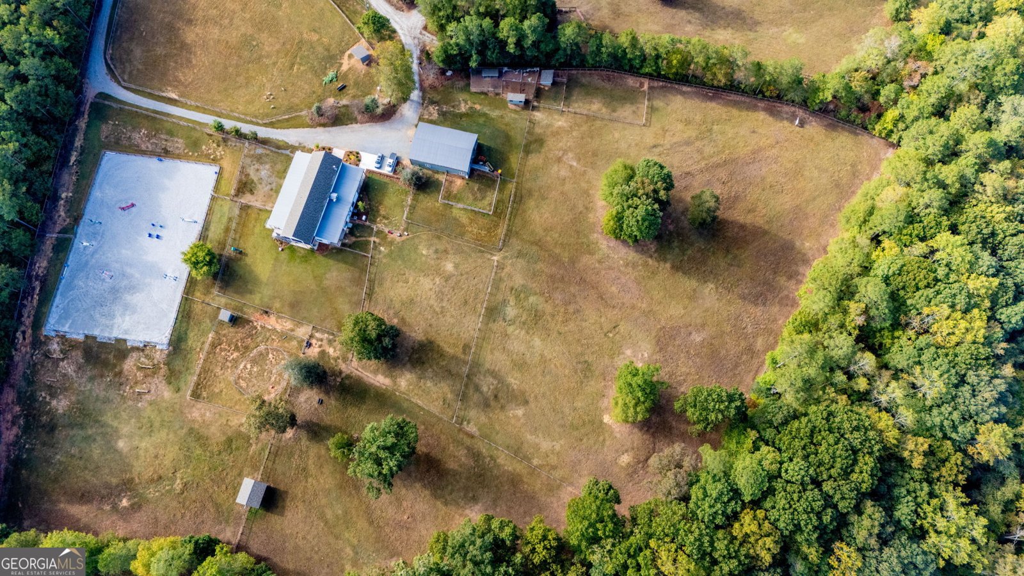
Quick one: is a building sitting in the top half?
Yes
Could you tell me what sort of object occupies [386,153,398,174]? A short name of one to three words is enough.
vehicle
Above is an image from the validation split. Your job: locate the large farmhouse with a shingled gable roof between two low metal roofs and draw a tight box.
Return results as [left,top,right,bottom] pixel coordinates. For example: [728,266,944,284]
[266,150,367,249]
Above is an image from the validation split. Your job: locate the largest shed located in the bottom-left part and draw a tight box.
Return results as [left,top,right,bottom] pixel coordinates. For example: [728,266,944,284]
[236,477,269,508]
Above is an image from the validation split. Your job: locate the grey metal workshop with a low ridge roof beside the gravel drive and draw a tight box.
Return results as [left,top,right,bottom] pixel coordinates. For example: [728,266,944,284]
[409,122,478,177]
